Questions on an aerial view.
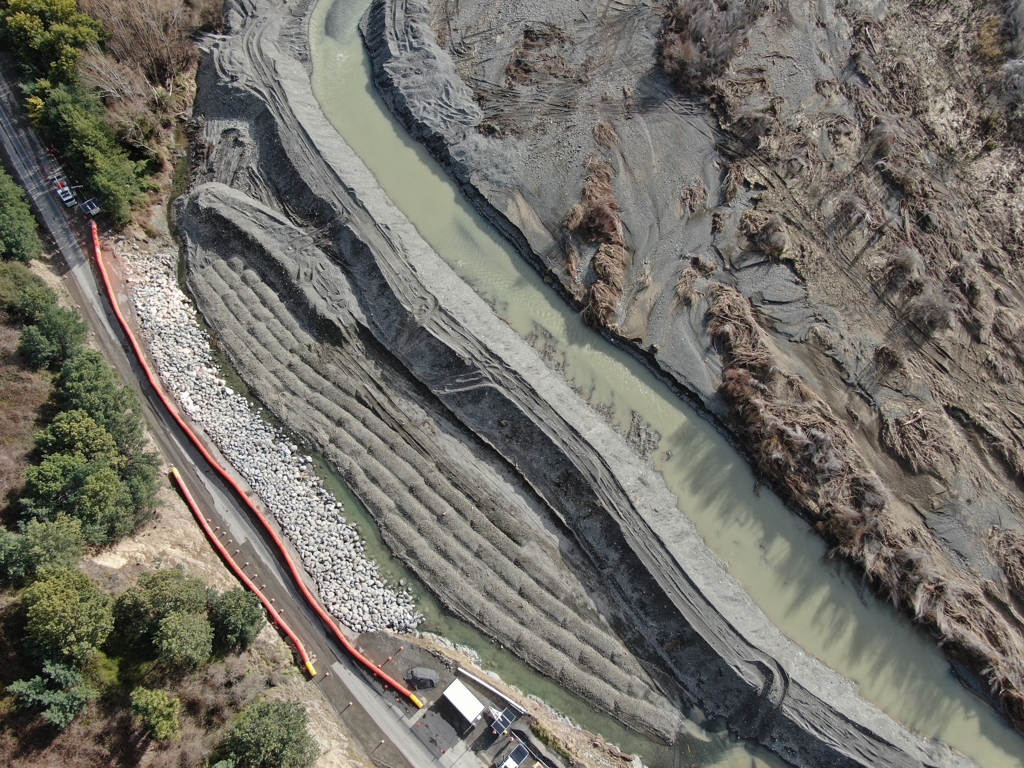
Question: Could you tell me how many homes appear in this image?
0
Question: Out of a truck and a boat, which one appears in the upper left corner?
truck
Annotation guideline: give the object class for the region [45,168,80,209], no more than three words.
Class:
truck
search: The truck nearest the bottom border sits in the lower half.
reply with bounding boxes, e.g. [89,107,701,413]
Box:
[490,741,531,768]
